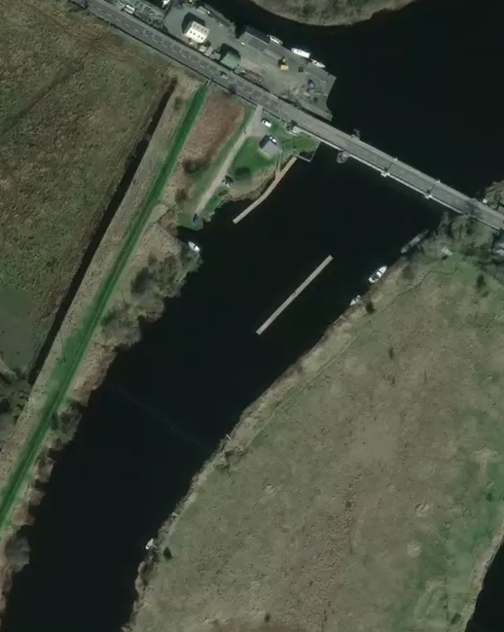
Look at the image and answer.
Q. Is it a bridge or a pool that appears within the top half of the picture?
bridge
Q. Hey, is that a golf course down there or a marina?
marina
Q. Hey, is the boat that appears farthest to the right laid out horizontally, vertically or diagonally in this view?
diagonally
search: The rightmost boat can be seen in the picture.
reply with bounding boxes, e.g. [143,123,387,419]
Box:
[403,230,428,252]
